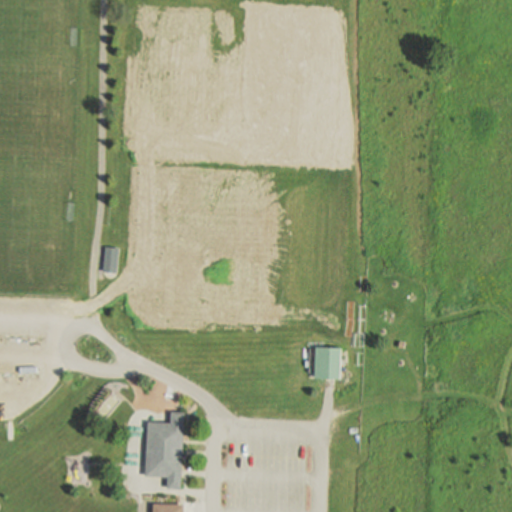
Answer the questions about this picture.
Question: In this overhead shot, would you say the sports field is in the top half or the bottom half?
top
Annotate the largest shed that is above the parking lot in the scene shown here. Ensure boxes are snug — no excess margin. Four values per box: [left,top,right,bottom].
[315,348,344,380]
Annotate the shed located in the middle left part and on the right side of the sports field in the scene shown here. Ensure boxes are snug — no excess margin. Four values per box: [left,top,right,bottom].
[104,247,118,272]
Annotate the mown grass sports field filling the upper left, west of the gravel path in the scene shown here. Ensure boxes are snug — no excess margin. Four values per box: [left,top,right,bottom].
[0,0,80,296]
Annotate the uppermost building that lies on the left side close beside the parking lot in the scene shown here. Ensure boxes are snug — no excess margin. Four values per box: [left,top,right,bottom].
[145,412,186,490]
